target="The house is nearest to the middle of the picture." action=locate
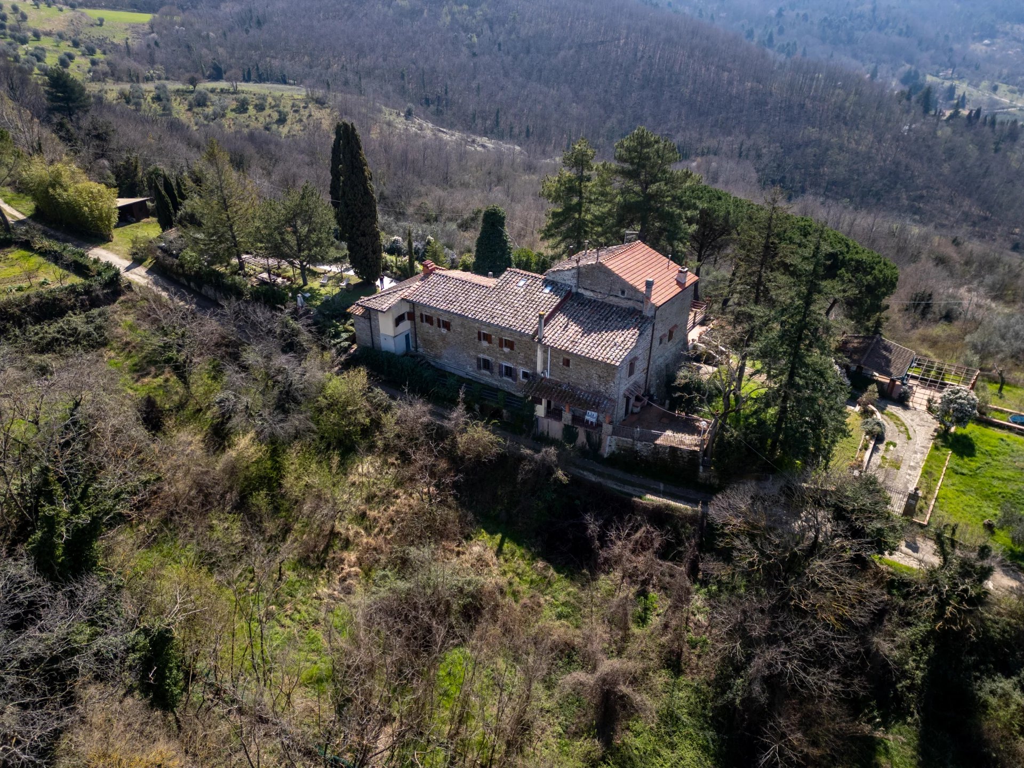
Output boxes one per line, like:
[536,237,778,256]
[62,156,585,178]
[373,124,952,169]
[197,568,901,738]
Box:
[345,231,702,469]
